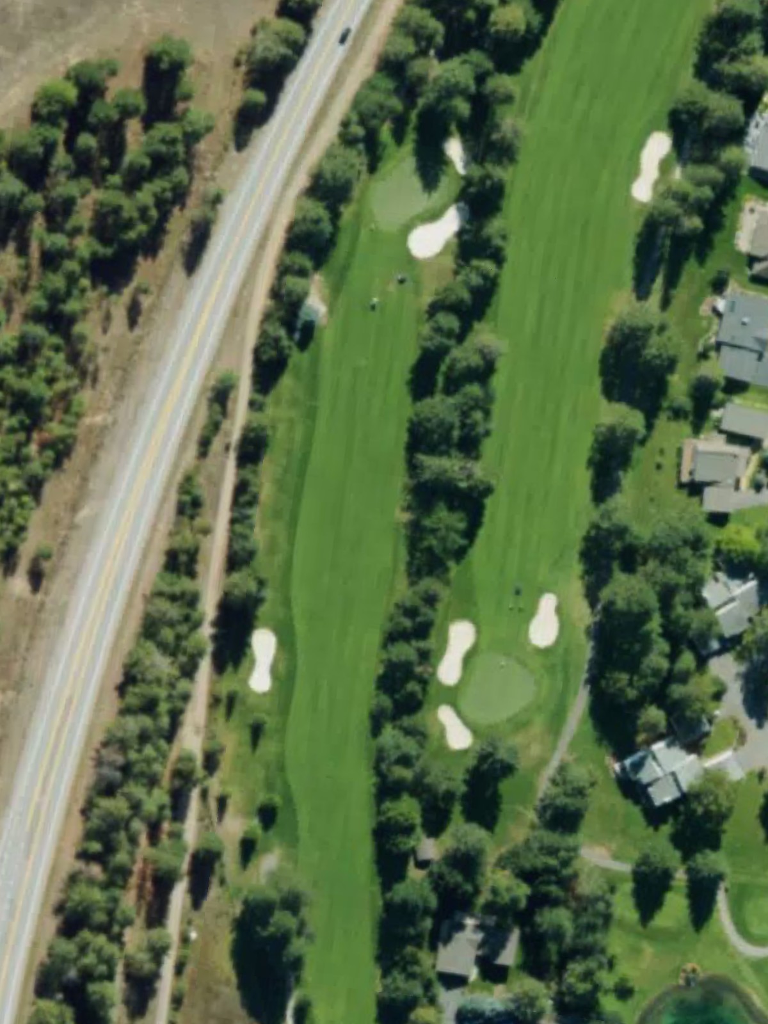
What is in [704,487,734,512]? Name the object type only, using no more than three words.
building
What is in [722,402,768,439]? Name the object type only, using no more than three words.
house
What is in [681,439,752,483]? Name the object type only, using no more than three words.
house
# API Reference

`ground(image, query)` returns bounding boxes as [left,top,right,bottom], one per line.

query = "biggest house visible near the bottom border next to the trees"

[437,919,522,978]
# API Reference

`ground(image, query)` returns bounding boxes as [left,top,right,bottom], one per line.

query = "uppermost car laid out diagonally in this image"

[338,27,352,44]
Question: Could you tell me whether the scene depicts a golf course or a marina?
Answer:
golf course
